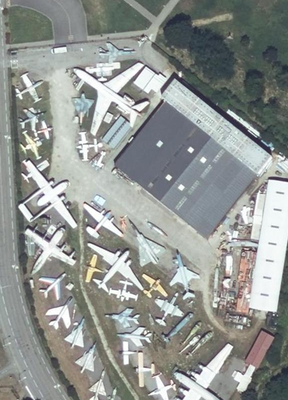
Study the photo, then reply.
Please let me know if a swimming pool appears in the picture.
No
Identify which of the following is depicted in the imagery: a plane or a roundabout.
plane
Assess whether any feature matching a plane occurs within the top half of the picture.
Yes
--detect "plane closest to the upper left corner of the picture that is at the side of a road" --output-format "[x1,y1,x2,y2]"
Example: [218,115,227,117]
[15,72,43,102]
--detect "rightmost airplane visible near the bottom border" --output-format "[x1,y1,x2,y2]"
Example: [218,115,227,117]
[174,344,234,400]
